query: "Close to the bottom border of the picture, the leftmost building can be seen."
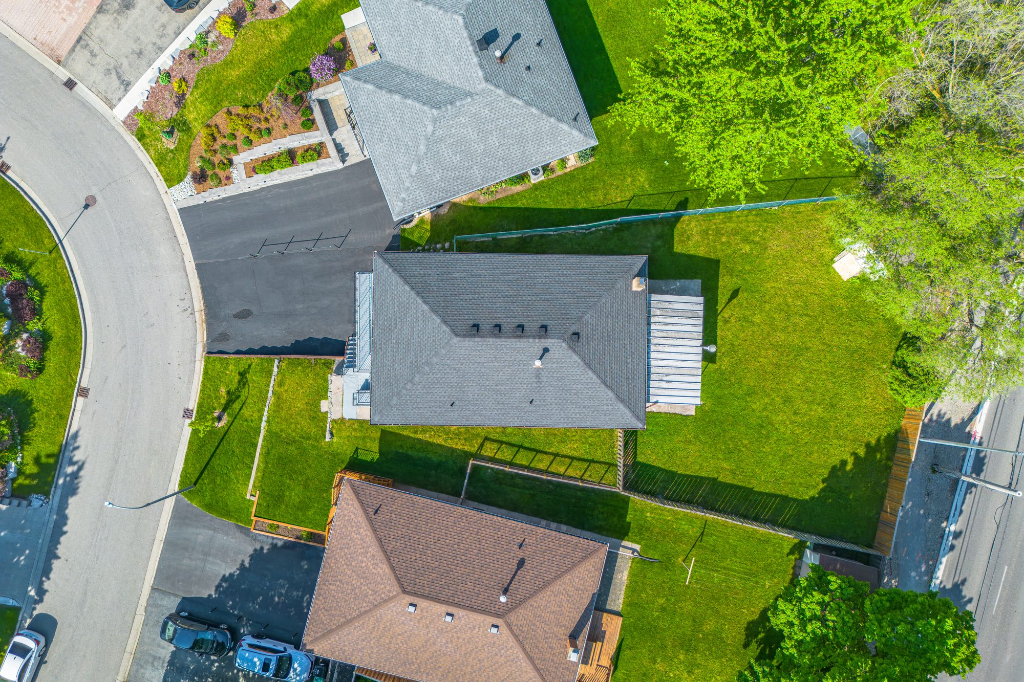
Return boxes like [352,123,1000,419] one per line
[300,475,611,682]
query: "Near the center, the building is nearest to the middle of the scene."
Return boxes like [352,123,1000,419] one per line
[368,250,650,431]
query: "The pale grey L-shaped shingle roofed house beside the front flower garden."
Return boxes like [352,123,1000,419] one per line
[338,0,600,223]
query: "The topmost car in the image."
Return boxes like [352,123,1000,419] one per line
[170,0,212,21]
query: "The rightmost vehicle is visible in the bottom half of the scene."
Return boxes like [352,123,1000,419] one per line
[238,633,314,682]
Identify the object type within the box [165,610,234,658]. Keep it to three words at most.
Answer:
car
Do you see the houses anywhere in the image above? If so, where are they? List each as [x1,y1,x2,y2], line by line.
[300,475,611,682]
[368,250,650,431]
[338,0,600,223]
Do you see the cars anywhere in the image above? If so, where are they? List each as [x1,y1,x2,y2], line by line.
[238,633,314,682]
[165,610,234,658]
[170,0,212,21]
[0,631,46,682]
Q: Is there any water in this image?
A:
No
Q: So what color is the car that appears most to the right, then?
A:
blue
